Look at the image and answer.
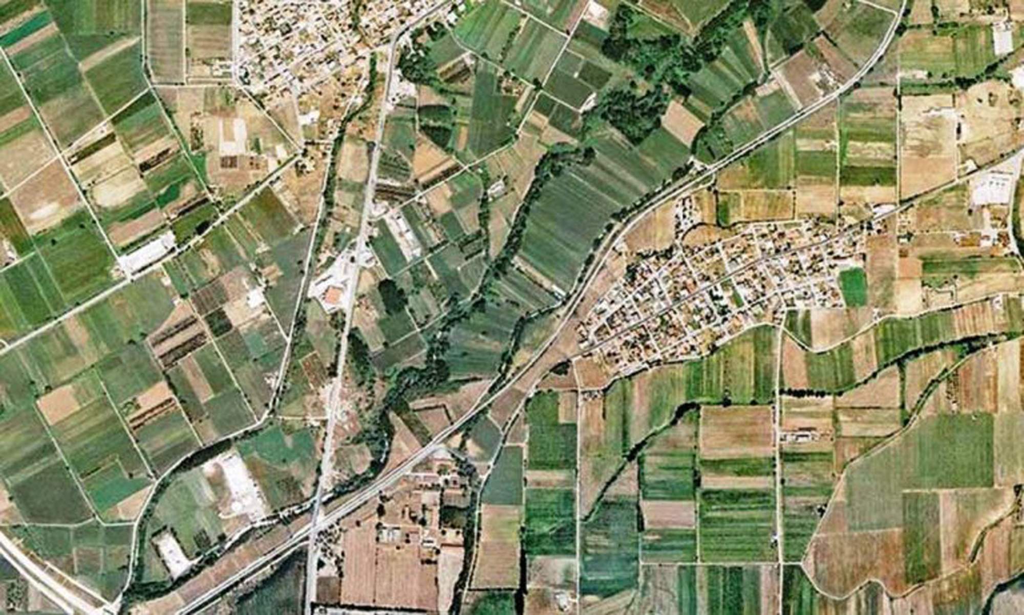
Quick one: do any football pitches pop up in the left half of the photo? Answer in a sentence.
No, in the left half of the photo there is no football pitch.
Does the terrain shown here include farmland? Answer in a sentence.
Yes, farmland shows up in the scene.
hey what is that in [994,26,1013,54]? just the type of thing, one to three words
building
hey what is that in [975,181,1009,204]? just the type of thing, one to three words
building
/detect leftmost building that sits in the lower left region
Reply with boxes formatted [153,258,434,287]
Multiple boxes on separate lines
[159,537,189,574]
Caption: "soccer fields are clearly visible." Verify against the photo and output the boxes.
[841,269,867,307]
